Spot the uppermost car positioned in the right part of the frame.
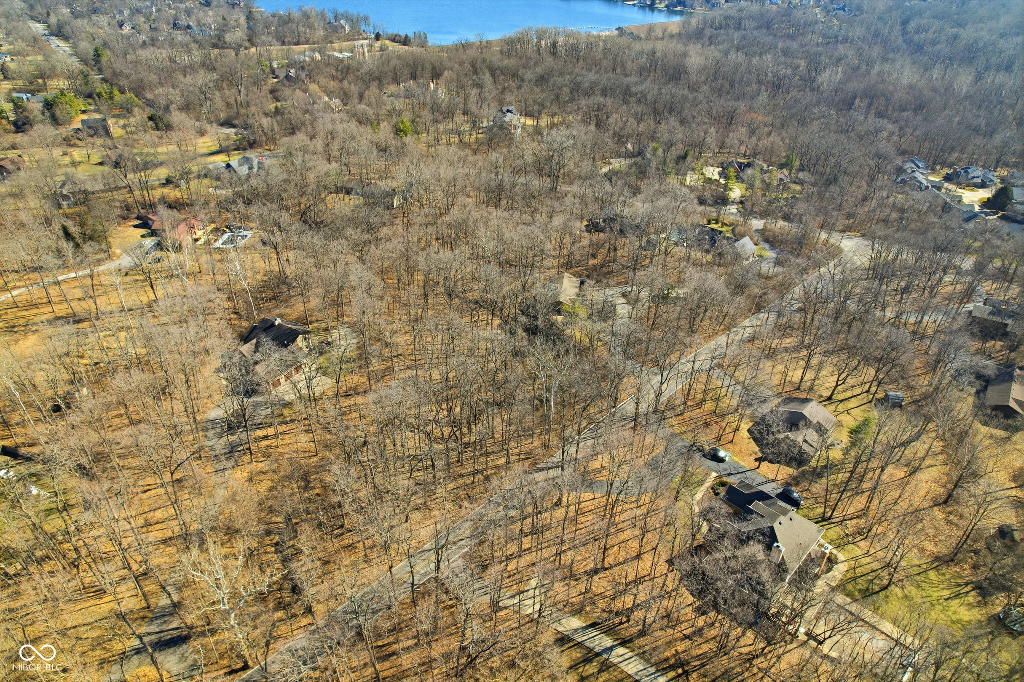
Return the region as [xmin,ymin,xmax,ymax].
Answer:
[701,445,729,462]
